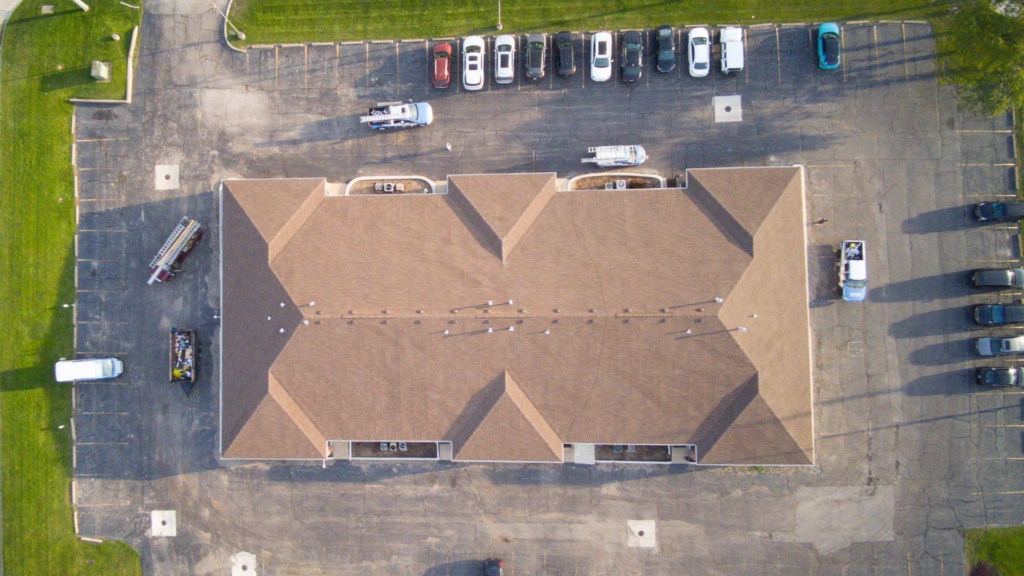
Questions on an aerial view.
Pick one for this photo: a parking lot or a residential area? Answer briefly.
parking lot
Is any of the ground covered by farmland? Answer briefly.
No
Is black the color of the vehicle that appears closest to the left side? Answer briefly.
No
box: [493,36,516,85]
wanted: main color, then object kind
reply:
white car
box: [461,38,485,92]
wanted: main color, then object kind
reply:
white car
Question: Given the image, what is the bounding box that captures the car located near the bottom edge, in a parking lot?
[484,555,504,576]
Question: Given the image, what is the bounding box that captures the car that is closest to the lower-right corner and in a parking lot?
[974,365,1024,389]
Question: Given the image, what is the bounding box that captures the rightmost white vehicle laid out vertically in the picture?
[840,239,871,302]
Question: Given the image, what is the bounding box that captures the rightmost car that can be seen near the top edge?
[814,24,842,72]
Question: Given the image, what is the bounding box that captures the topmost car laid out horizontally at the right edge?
[971,199,1024,224]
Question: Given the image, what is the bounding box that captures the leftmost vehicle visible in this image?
[54,357,124,382]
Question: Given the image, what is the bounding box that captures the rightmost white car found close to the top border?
[686,28,712,79]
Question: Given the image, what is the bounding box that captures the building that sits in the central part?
[219,164,817,466]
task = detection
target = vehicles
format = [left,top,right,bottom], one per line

[840,239,871,302]
[493,36,516,85]
[484,555,504,576]
[156,223,209,283]
[461,38,485,92]
[814,24,842,72]
[654,25,678,75]
[594,143,647,171]
[974,334,1024,359]
[972,302,1024,328]
[430,44,452,90]
[589,31,614,84]
[970,265,1024,290]
[971,199,1024,224]
[686,28,712,79]
[620,32,645,84]
[369,96,433,131]
[54,357,124,382]
[554,32,578,79]
[524,34,548,83]
[974,365,1024,389]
